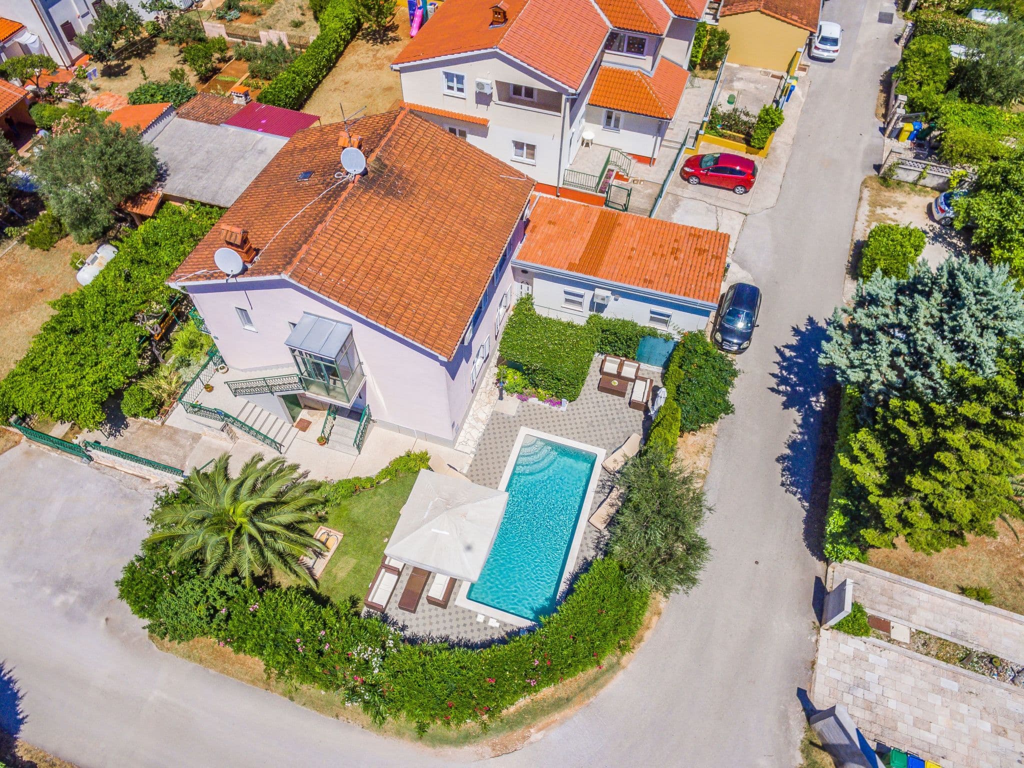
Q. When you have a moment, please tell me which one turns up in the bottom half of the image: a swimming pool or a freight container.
swimming pool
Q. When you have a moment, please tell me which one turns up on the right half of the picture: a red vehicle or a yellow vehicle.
red vehicle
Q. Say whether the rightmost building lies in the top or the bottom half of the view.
top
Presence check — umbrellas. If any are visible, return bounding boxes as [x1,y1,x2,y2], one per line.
[384,469,508,583]
[647,391,666,428]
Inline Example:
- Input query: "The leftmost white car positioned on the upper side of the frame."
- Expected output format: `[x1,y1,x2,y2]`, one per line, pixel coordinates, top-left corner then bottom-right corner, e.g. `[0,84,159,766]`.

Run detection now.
[806,22,847,64]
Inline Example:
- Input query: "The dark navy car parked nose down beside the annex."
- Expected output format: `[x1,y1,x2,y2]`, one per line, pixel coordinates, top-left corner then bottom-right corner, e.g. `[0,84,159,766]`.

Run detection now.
[714,281,765,355]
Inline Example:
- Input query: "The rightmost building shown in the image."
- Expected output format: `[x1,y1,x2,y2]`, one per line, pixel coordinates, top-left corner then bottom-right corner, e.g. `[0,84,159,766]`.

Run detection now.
[720,0,829,71]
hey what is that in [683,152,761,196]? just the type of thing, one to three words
car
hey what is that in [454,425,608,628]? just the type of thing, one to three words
swimming pool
